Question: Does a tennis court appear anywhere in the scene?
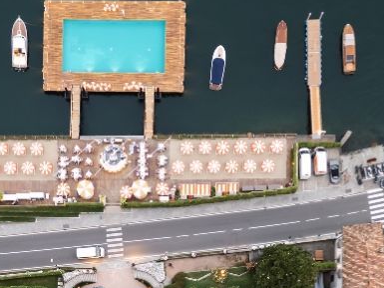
No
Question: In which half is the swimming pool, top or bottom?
top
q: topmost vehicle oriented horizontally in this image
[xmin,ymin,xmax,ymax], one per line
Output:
[76,244,105,258]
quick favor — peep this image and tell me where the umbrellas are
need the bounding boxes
[22,162,34,175]
[76,180,94,200]
[40,162,52,175]
[190,160,203,174]
[243,160,256,174]
[180,141,194,155]
[217,141,229,155]
[155,183,169,197]
[58,183,70,197]
[198,141,212,155]
[3,162,16,176]
[208,160,221,173]
[251,140,265,154]
[261,161,275,174]
[30,143,43,156]
[234,141,247,155]
[225,161,238,174]
[131,180,151,200]
[270,141,283,155]
[119,187,132,199]
[172,161,185,174]
[0,143,9,156]
[12,143,26,156]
